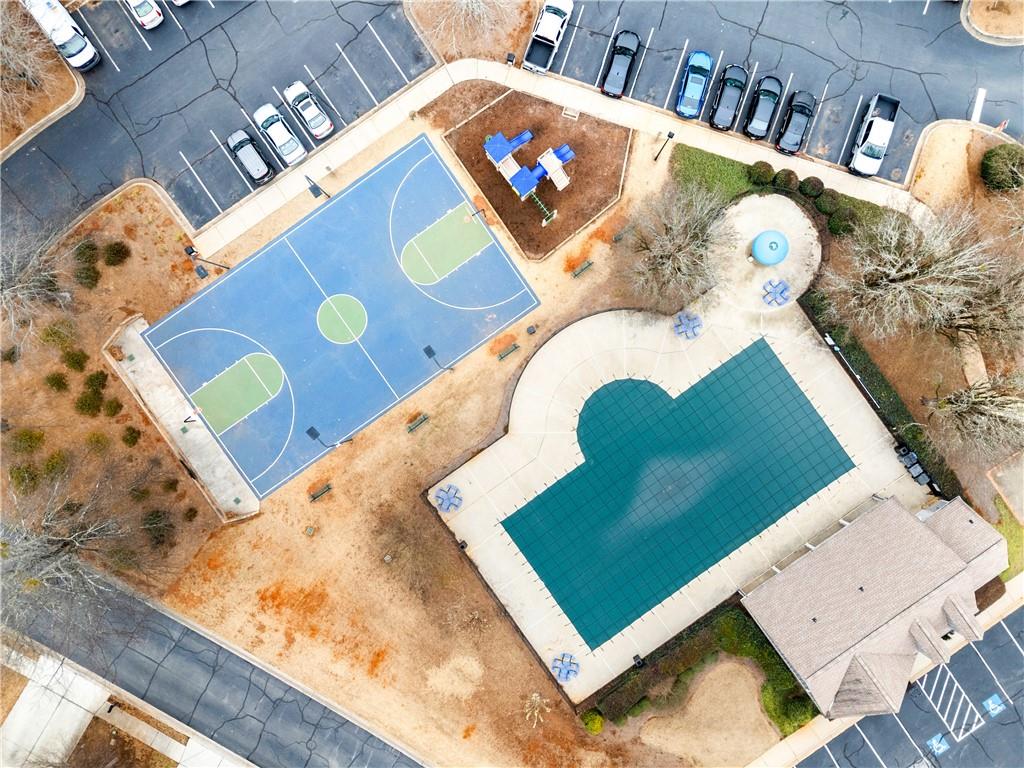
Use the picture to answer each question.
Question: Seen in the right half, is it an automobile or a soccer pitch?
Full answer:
What appears in the right half is an automobile.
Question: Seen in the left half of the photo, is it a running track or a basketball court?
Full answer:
It is a basketball court that can be seen in the left half of the photo.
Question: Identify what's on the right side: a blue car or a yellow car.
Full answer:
It is a blue car that can be seen on the right side.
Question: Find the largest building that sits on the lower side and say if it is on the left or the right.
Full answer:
It is on the right.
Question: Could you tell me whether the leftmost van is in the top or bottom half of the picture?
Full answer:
You can find the leftmost van in the top half.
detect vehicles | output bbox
[673,49,712,124]
[705,63,748,135]
[227,128,276,189]
[285,80,335,144]
[125,0,164,30]
[741,76,781,144]
[599,30,641,103]
[26,0,105,76]
[773,91,816,158]
[255,101,308,170]
[850,92,903,180]
[522,0,573,79]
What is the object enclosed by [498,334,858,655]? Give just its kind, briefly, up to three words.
swimming pool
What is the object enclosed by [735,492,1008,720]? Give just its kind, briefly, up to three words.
building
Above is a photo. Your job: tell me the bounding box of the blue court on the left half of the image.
[139,132,545,505]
